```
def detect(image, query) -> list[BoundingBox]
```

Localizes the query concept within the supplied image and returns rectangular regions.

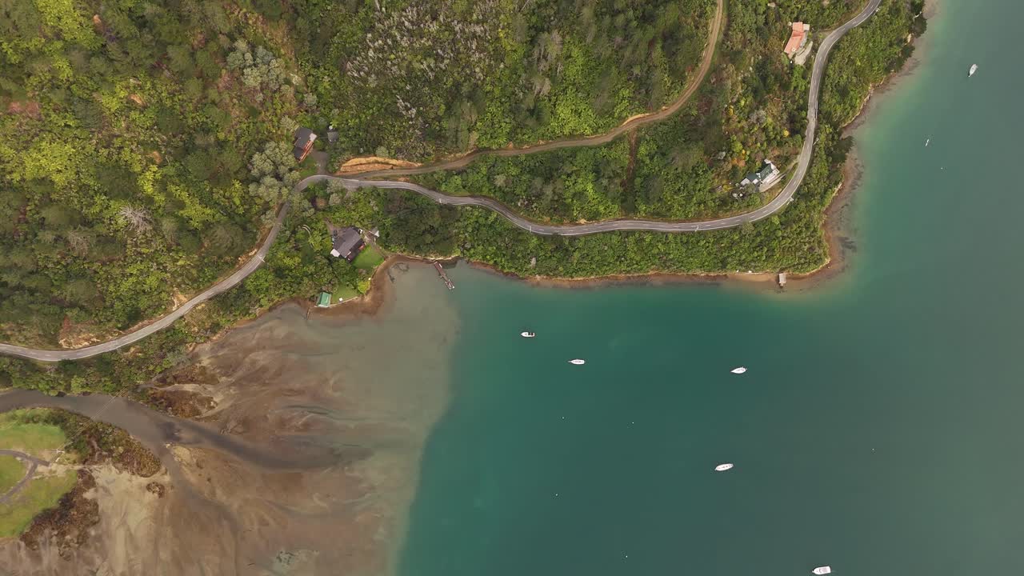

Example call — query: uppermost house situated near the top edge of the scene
[784,22,810,59]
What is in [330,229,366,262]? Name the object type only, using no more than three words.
house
